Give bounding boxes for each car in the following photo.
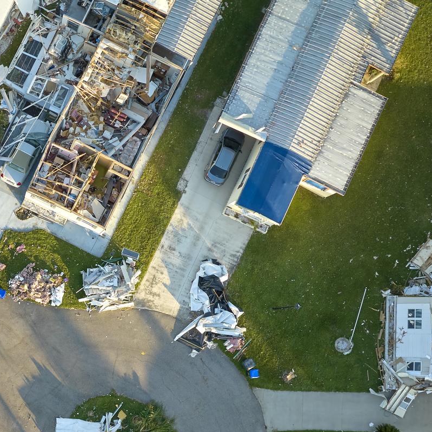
[0,111,49,190]
[199,125,252,191]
